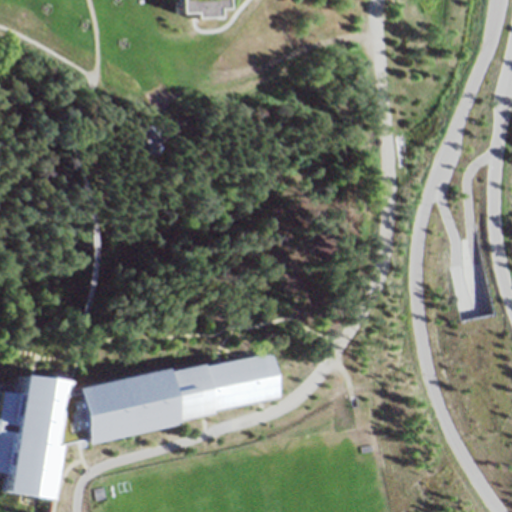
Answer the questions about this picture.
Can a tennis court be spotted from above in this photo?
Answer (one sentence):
No, no tennis court is visible in the scene.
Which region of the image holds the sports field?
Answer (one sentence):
You can find the sports field in the bottom area of the picture.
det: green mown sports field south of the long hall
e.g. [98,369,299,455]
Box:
[85,437,383,512]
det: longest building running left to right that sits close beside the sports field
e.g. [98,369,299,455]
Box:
[84,354,281,445]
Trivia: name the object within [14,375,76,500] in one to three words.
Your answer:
building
